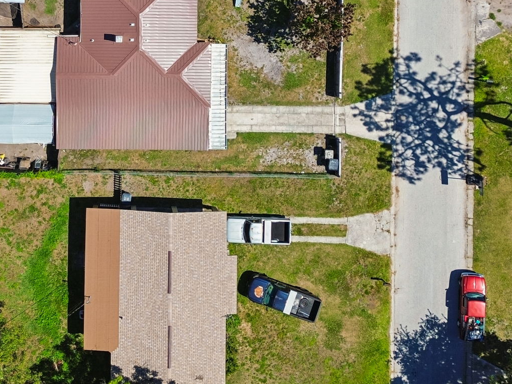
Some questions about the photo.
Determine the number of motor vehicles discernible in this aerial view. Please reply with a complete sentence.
The picture shows 3 motor vehicles.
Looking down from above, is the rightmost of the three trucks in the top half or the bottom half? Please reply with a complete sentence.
The bottom half of the photo is where the rightmost of the three trucks is.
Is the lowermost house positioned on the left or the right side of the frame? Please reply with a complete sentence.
The lowermost house appears in the left half of the scene.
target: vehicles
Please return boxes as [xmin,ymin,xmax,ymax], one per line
[453,267,488,343]
[226,213,294,246]
[241,271,320,321]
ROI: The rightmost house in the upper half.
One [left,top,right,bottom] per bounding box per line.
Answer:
[56,0,218,150]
